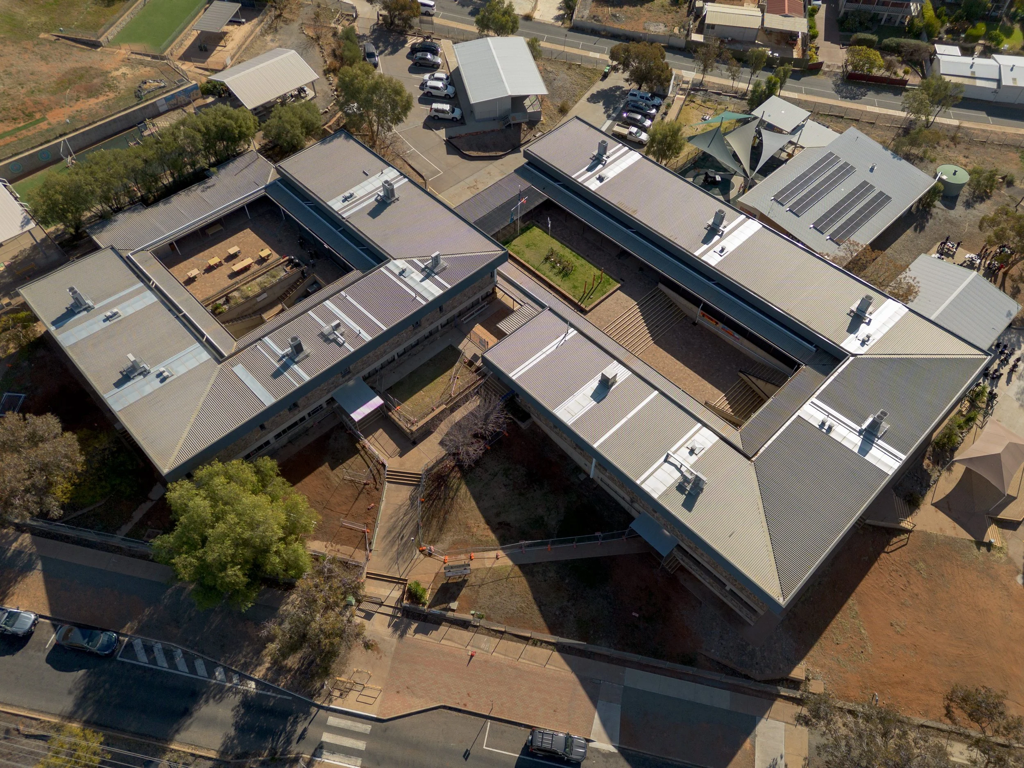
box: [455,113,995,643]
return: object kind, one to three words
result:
building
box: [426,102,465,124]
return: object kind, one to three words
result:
car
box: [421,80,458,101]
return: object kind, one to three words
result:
car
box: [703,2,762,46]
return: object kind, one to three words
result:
shed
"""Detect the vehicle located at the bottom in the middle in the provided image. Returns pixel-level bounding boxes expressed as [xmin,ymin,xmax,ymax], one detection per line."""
[524,726,589,764]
